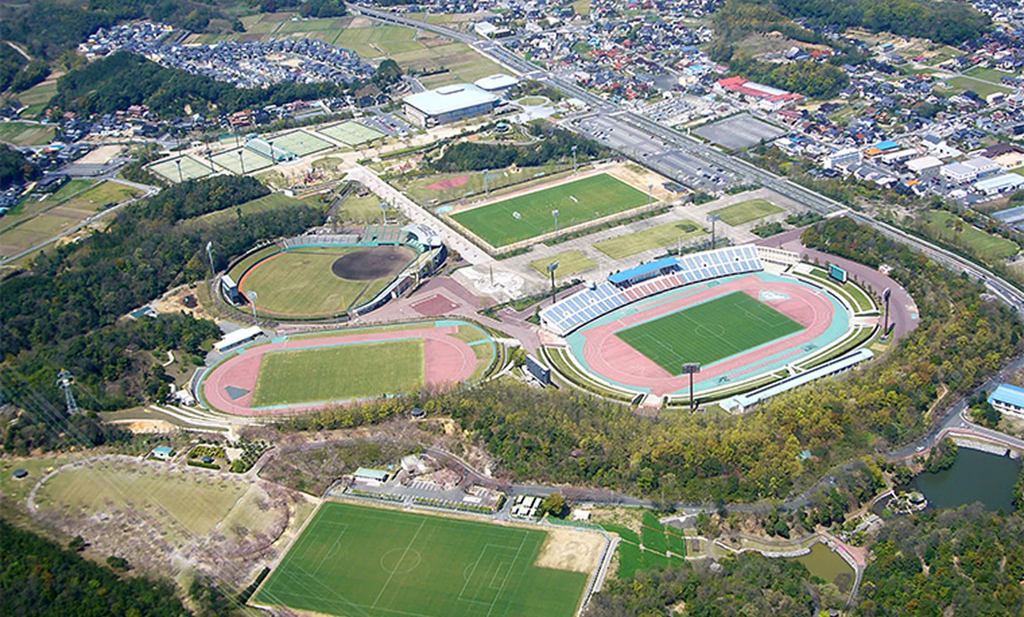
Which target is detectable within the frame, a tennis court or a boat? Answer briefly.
tennis court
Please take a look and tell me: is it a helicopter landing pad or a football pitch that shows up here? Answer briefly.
football pitch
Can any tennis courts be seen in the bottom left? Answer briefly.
No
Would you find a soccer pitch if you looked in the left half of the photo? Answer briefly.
Yes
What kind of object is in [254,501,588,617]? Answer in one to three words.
soccer field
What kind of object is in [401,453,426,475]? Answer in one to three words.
house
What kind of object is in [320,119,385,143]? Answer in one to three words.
tennis court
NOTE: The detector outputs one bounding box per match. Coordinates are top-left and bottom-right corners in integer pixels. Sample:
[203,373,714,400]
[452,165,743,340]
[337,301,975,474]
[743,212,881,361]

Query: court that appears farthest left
[150,154,214,180]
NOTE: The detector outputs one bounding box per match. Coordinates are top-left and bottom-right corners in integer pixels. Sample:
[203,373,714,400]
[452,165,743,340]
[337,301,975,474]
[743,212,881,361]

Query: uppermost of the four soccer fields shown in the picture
[451,171,659,247]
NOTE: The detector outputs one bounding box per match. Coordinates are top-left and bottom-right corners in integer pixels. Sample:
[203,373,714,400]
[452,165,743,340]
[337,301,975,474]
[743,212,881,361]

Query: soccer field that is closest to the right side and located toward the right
[613,289,806,374]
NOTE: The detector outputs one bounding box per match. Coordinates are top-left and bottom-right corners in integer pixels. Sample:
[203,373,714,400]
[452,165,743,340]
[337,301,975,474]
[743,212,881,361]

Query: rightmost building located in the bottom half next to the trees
[988,383,1024,422]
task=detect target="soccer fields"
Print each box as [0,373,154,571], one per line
[451,171,659,247]
[254,501,588,617]
[613,289,806,374]
[251,337,426,406]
